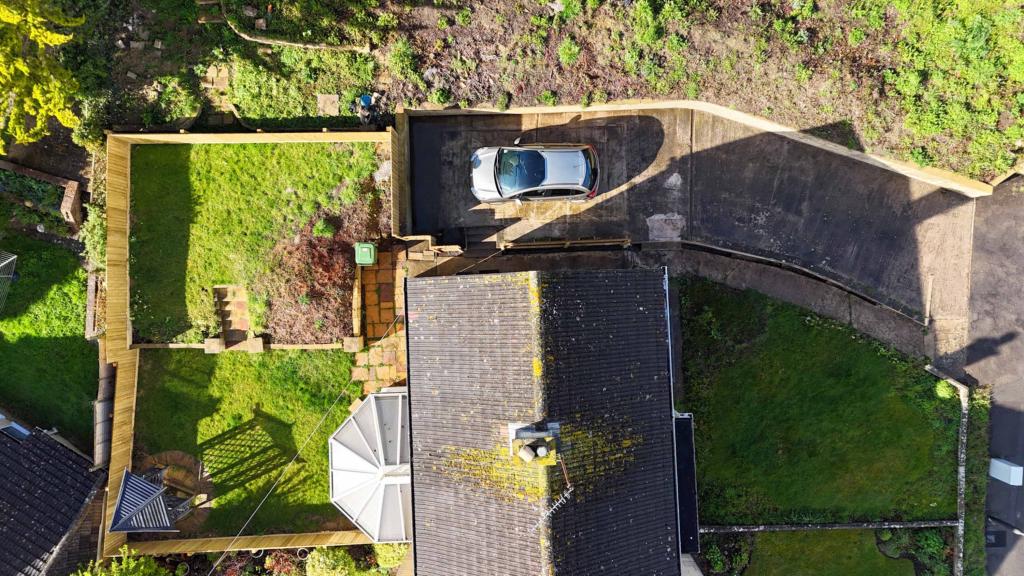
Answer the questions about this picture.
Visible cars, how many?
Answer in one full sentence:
In total, there is 1 car in the scene.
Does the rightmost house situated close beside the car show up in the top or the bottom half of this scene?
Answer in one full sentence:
The bottom half of the photo is where the rightmost house situated close beside the car is.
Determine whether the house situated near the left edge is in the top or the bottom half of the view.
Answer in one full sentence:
The house situated near the left edge is in the bottom half of the image.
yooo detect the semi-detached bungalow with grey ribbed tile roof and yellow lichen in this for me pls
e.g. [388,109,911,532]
[397,252,702,576]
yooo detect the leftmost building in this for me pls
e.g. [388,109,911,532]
[0,374,111,576]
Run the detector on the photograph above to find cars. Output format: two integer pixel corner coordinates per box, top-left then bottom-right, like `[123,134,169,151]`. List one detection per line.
[467,135,602,207]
